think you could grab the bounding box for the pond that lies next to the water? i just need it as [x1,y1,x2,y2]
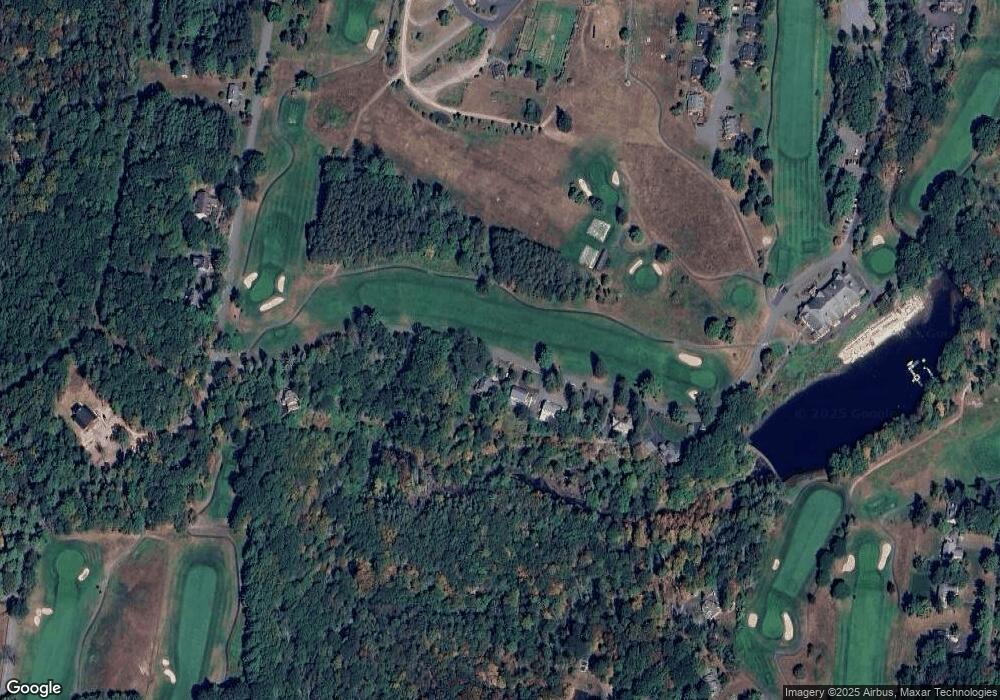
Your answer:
[752,270,968,481]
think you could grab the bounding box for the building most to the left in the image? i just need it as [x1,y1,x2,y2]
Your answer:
[64,400,100,427]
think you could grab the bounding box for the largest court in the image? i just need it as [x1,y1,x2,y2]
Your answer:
[527,1,579,75]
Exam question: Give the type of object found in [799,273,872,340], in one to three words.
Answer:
building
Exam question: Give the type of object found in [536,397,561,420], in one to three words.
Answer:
house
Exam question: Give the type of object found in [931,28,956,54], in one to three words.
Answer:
house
